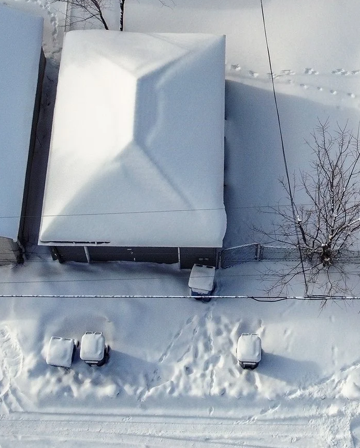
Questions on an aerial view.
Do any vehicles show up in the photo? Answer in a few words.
No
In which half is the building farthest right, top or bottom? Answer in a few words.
top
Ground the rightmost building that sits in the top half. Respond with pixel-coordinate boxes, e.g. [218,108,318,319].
[39,32,227,268]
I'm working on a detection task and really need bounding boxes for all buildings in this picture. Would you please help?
[39,32,227,268]
[0,8,51,265]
